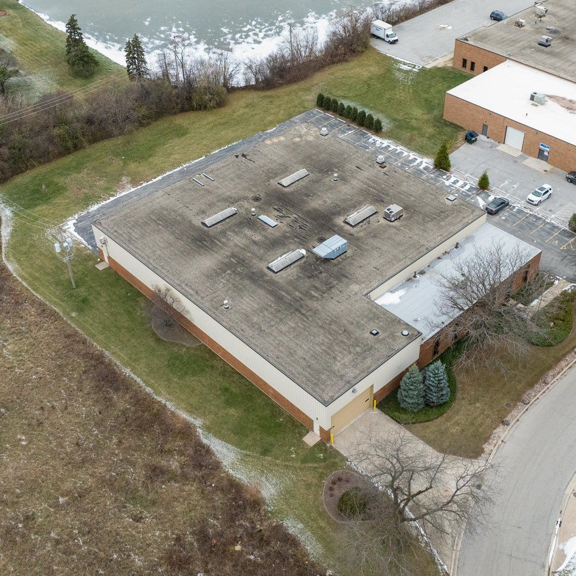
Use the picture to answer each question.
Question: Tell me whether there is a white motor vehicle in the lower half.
No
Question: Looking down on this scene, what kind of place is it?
industrial area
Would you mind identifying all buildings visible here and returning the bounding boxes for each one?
[443,0,576,172]
[90,120,540,451]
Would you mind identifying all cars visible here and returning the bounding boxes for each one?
[563,170,576,184]
[485,197,512,216]
[488,7,506,19]
[526,182,552,205]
